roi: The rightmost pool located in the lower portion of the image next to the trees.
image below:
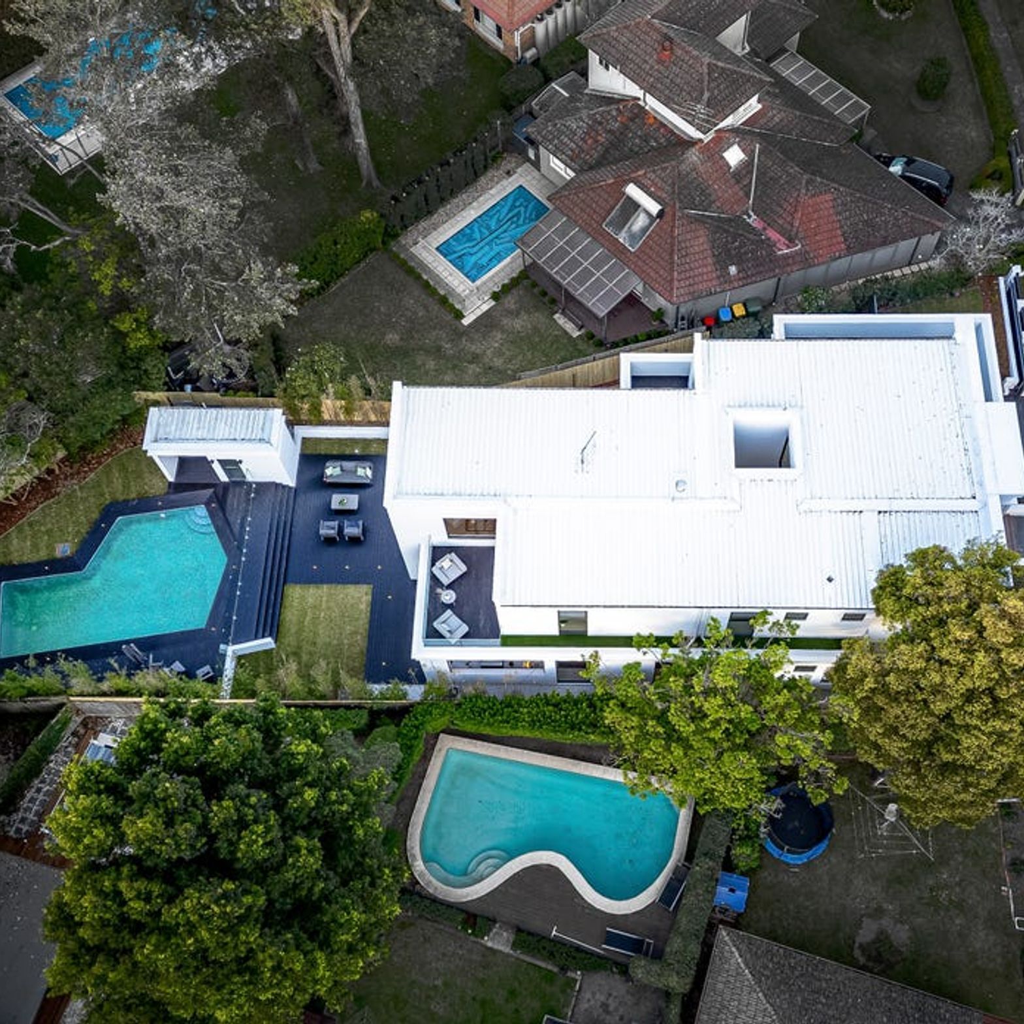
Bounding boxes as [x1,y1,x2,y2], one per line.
[407,738,694,914]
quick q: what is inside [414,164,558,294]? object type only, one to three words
swimming pool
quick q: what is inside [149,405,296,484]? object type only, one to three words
building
